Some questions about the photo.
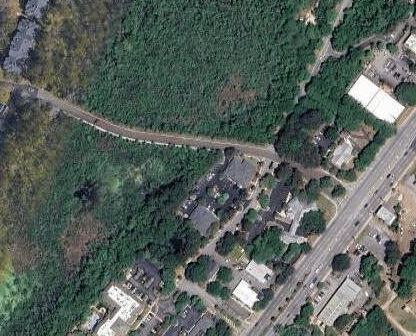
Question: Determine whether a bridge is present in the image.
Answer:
No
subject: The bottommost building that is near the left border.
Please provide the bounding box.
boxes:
[4,18,39,74]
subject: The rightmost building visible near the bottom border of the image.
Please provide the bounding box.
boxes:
[318,277,361,326]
